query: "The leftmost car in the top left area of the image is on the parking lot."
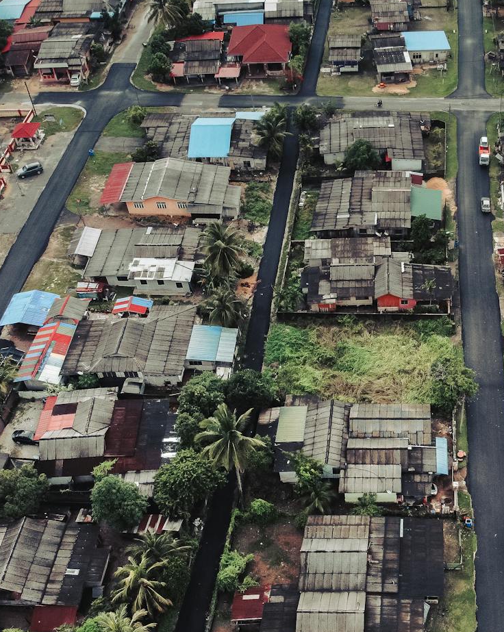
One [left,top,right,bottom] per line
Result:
[16,157,43,175]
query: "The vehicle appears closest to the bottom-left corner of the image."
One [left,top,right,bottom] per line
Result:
[7,427,41,445]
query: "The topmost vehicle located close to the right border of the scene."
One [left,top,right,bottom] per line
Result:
[477,135,490,160]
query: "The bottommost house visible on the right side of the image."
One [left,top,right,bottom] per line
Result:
[231,515,444,632]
